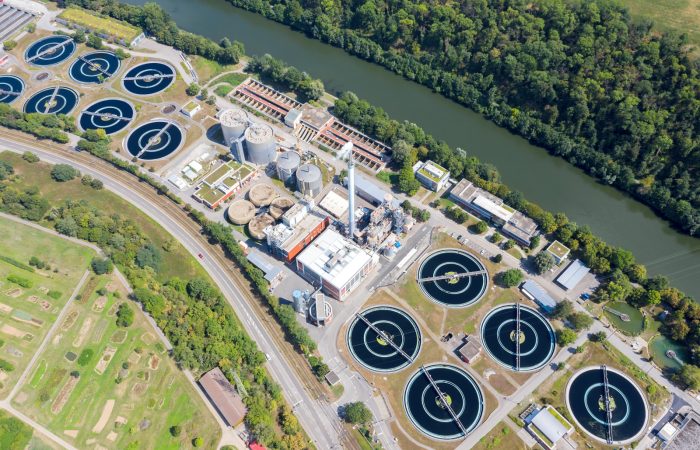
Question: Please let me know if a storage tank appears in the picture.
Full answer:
Yes, I can see a storage tank in this picture.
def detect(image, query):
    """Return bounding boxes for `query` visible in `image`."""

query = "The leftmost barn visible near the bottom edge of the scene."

[199,367,247,428]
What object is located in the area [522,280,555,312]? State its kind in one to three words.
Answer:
shed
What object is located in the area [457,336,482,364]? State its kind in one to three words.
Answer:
building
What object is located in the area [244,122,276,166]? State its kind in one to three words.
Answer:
silo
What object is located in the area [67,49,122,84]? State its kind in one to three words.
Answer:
storage tank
